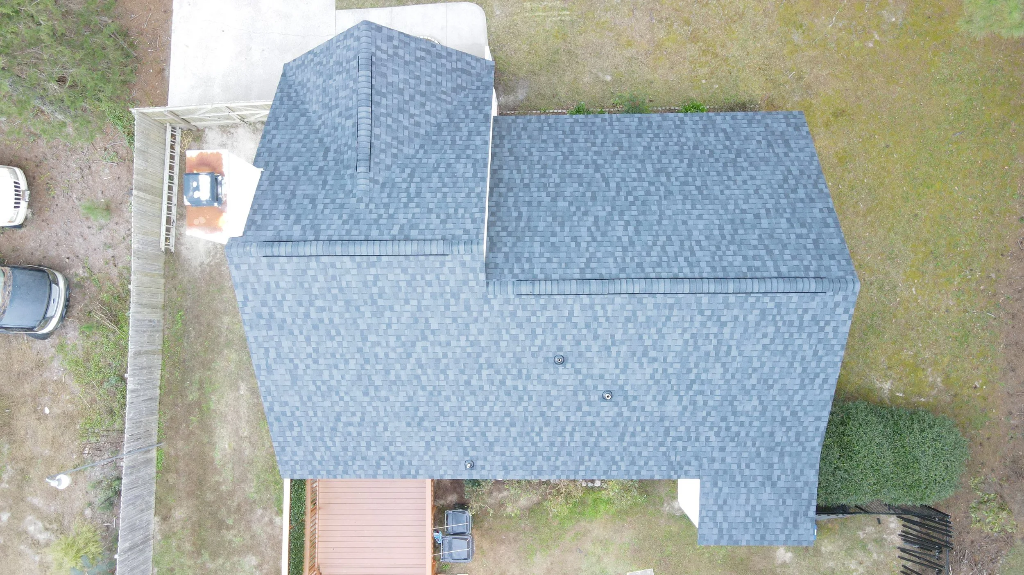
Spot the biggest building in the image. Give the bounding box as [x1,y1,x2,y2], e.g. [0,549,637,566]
[183,20,861,547]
